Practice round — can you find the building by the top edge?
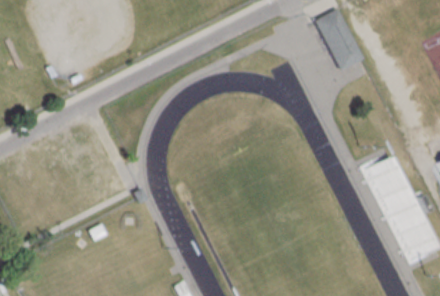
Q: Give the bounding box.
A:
[314,9,364,68]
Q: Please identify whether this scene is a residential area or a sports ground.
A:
sports ground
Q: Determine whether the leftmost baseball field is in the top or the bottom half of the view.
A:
top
